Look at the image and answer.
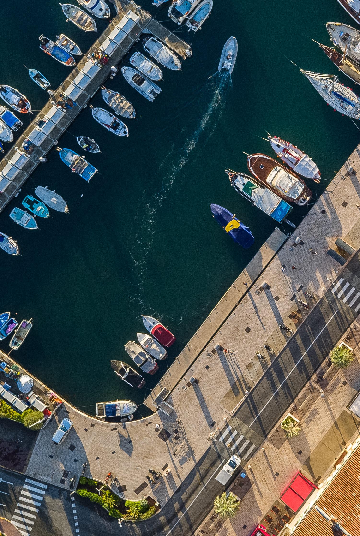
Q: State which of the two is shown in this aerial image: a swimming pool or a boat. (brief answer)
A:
boat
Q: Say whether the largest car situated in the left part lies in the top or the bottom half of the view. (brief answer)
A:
bottom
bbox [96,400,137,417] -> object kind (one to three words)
boat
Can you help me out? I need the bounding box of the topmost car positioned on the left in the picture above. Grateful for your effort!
[51,415,74,448]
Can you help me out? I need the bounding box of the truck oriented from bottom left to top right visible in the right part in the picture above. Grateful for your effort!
[213,452,243,490]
